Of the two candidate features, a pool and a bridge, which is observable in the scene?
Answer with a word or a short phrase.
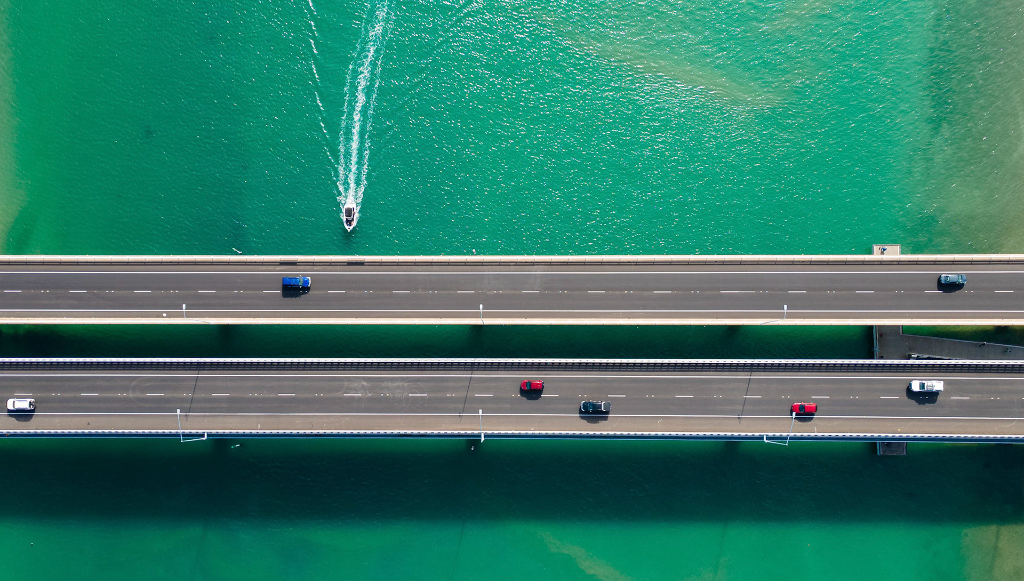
bridge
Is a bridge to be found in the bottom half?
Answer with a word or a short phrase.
Yes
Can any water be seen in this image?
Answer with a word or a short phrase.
Yes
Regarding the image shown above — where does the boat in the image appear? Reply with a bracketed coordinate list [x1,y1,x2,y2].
[343,200,355,233]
